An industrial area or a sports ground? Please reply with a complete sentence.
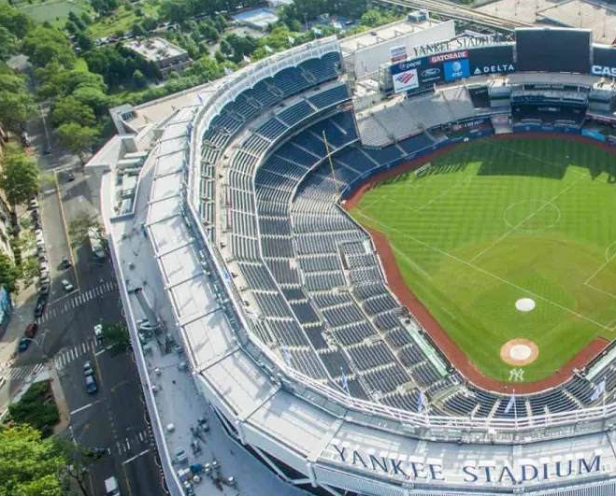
The picture captures a sports ground.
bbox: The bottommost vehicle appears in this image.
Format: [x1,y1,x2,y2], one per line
[101,472,119,496]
